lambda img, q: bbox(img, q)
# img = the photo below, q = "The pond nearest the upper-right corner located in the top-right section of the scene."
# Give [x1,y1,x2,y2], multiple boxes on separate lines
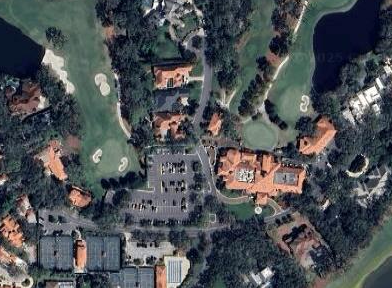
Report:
[312,0,387,97]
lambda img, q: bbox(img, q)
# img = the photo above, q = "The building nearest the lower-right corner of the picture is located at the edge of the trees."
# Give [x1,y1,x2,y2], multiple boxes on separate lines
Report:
[310,243,333,267]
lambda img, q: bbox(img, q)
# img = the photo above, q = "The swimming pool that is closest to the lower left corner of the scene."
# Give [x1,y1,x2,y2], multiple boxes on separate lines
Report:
[166,256,190,288]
